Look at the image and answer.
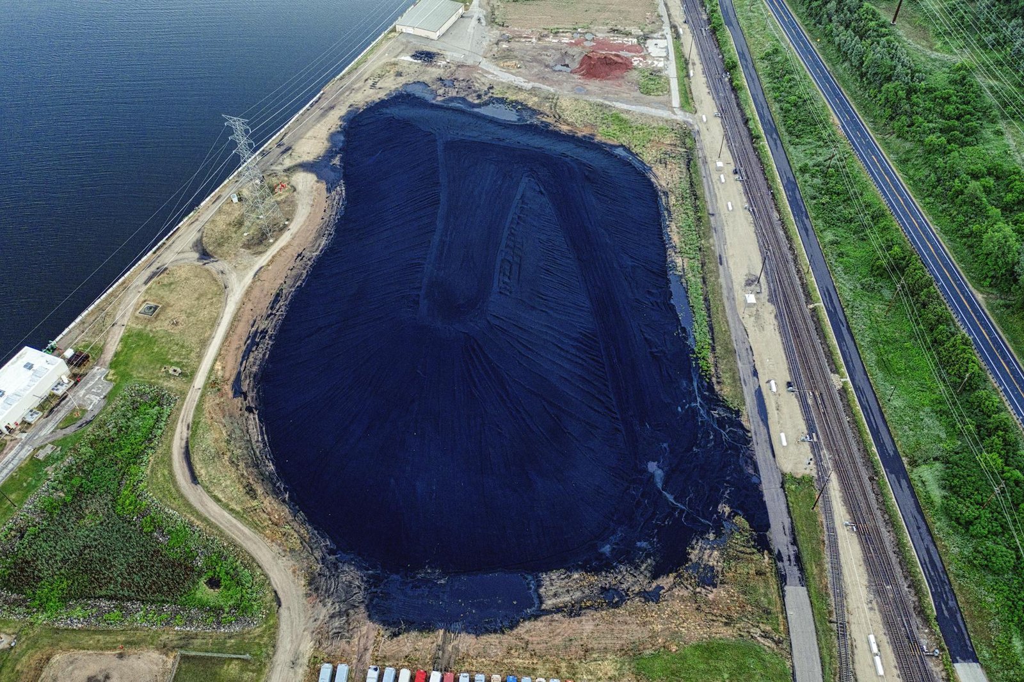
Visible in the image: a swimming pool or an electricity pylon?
electricity pylon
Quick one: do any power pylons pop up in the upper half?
Yes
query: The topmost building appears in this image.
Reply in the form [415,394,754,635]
[396,0,464,40]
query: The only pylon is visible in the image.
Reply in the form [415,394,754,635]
[223,114,288,241]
